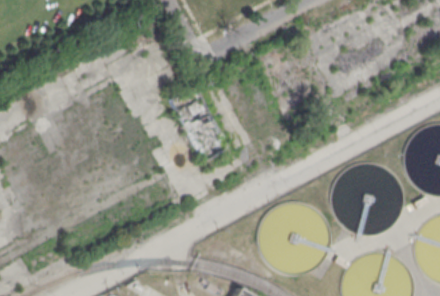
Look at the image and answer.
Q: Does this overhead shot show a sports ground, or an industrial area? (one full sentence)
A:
The picture captures an industrial area.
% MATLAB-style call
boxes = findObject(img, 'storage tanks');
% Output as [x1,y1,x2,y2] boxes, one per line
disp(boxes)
[328,160,406,240]
[340,246,416,296]
[255,200,336,276]
[401,120,440,196]
[408,212,440,286]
